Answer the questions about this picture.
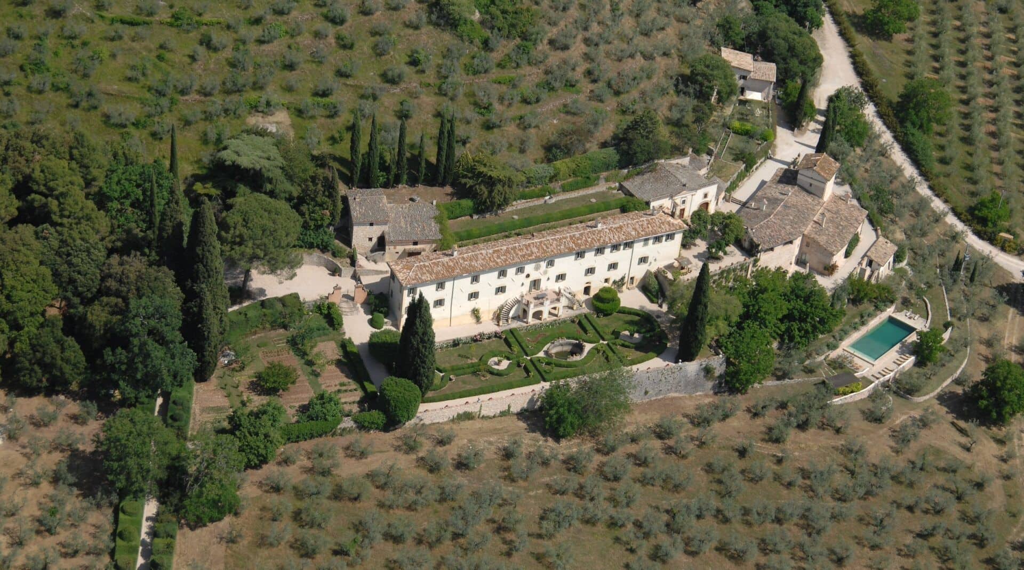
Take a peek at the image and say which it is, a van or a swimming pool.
swimming pool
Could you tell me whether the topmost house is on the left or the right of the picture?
right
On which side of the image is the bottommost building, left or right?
right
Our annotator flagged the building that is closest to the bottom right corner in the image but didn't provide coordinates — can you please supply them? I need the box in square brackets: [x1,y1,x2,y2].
[825,372,861,392]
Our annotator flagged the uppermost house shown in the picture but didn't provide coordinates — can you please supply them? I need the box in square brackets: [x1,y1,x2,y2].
[721,47,776,100]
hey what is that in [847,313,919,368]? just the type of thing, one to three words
swimming pool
